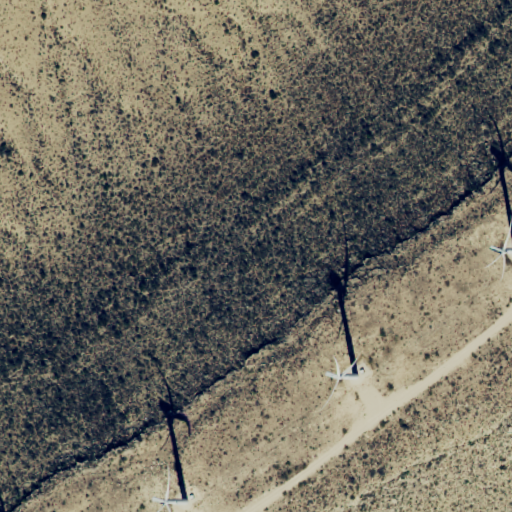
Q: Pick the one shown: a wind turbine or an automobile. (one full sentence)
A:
Visible in the photo is a wind turbine.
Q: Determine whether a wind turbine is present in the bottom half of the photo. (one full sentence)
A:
Yes, a wind turbine appears in the bottom half of the photo.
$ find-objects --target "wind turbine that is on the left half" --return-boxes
[150,467,192,512]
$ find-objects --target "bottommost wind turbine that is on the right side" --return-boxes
[316,356,362,410]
